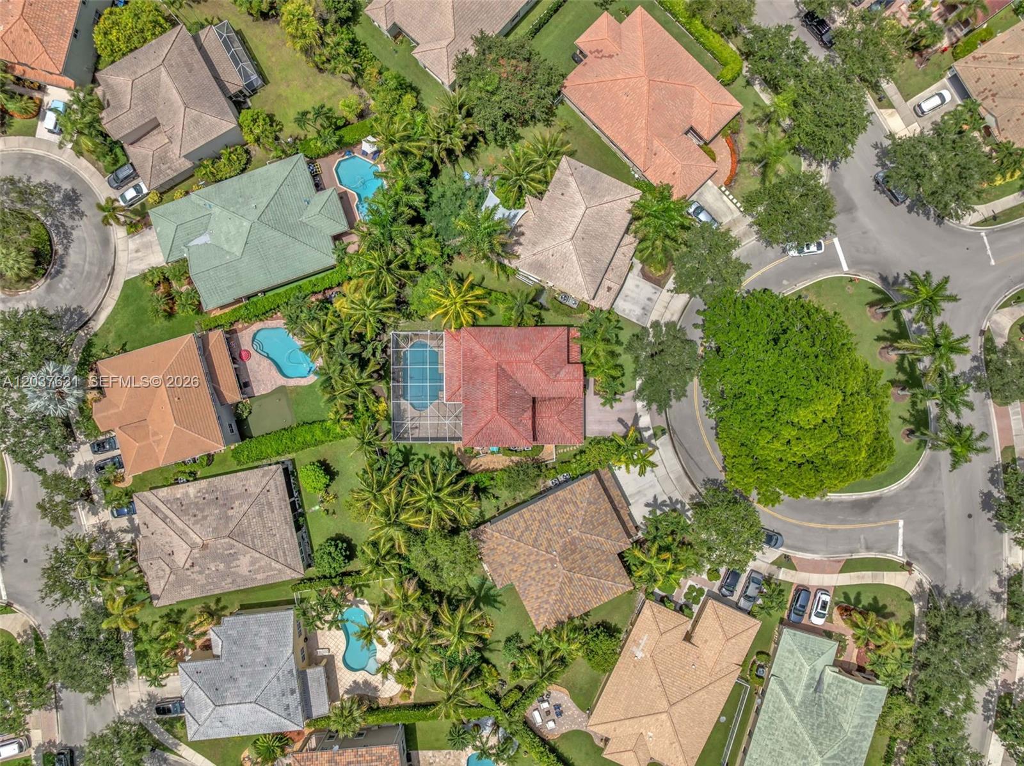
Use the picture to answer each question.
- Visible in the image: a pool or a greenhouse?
pool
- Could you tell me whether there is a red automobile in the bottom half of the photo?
No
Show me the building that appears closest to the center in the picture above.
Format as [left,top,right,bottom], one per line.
[445,326,584,447]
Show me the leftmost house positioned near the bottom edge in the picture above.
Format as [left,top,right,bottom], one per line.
[179,603,331,741]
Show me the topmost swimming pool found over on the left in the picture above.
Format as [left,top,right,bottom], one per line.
[331,153,388,223]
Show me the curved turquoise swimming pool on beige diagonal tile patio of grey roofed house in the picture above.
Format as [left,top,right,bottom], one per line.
[338,605,381,677]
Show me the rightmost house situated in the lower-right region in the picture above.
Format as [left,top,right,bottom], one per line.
[735,624,887,766]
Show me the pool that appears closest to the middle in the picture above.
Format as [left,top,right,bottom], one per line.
[400,338,442,413]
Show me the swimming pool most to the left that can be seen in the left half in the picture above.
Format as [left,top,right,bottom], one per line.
[250,324,319,380]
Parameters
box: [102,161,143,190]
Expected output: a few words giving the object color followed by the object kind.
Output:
gray car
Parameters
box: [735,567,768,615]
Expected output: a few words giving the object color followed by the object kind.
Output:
gray car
